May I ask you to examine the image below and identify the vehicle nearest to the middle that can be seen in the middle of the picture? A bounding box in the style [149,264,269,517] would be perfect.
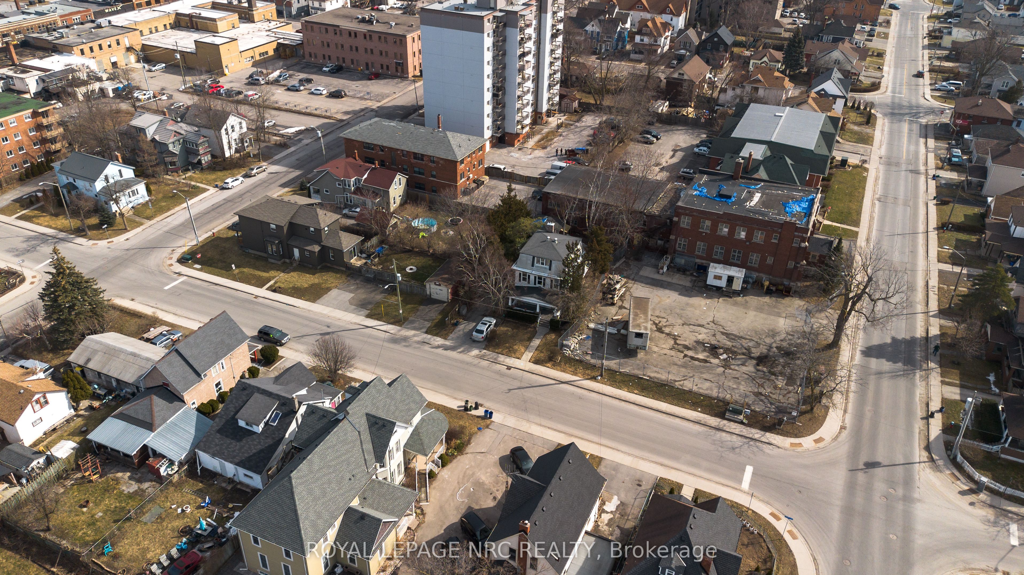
[470,319,497,342]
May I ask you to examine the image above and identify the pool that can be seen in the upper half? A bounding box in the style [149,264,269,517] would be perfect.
[412,217,437,235]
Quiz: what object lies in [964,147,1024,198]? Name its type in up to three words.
house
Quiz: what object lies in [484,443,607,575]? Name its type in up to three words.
house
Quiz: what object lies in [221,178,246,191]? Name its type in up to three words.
vehicle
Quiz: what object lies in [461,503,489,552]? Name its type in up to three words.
vehicle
